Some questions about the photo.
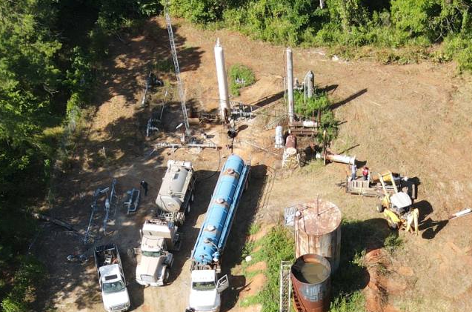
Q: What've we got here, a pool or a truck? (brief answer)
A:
truck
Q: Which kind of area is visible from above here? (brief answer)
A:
industrial area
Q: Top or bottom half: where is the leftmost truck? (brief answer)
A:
bottom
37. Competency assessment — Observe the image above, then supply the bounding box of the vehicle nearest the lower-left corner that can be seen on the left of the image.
[93,245,132,312]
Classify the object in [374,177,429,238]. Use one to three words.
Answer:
work vehicle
